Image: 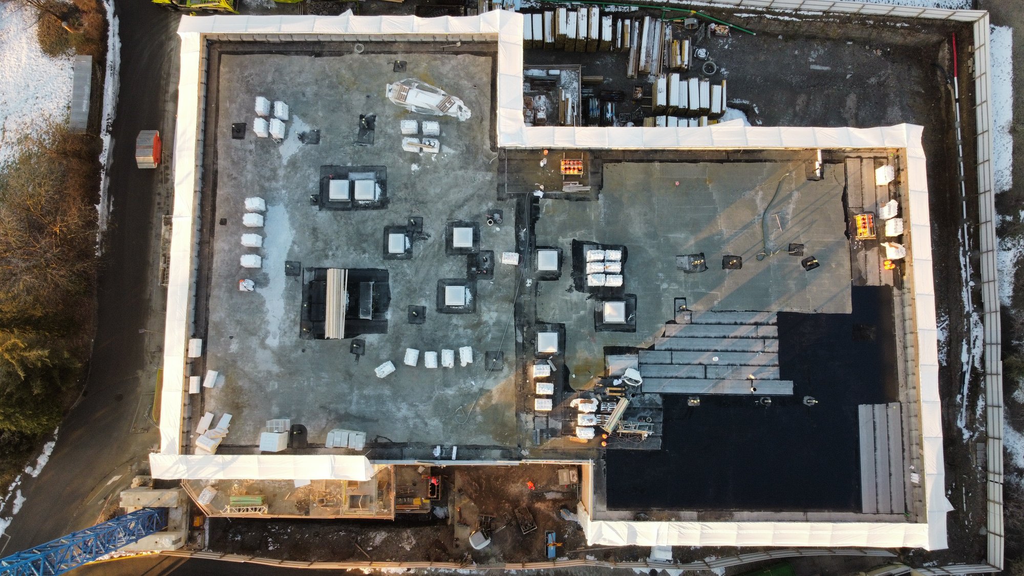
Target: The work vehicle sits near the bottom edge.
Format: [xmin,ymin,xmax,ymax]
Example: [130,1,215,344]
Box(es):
[468,510,502,554]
